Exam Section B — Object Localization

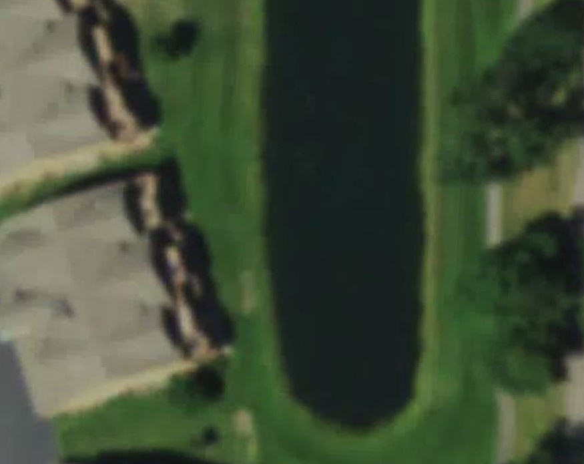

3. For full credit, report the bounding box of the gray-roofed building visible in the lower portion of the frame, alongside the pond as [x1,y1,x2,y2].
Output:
[0,169,209,420]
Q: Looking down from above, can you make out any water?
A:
Yes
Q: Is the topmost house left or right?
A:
left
